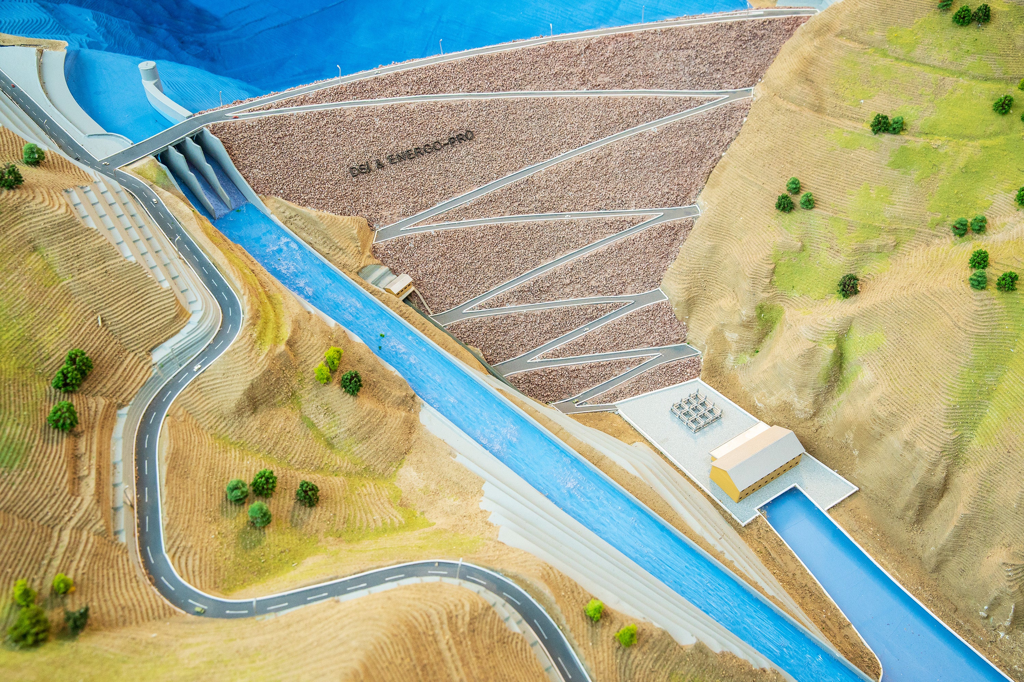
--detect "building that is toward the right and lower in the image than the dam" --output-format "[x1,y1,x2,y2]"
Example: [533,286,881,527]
[708,420,807,503]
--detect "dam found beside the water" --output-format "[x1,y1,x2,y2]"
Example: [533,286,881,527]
[182,3,811,408]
